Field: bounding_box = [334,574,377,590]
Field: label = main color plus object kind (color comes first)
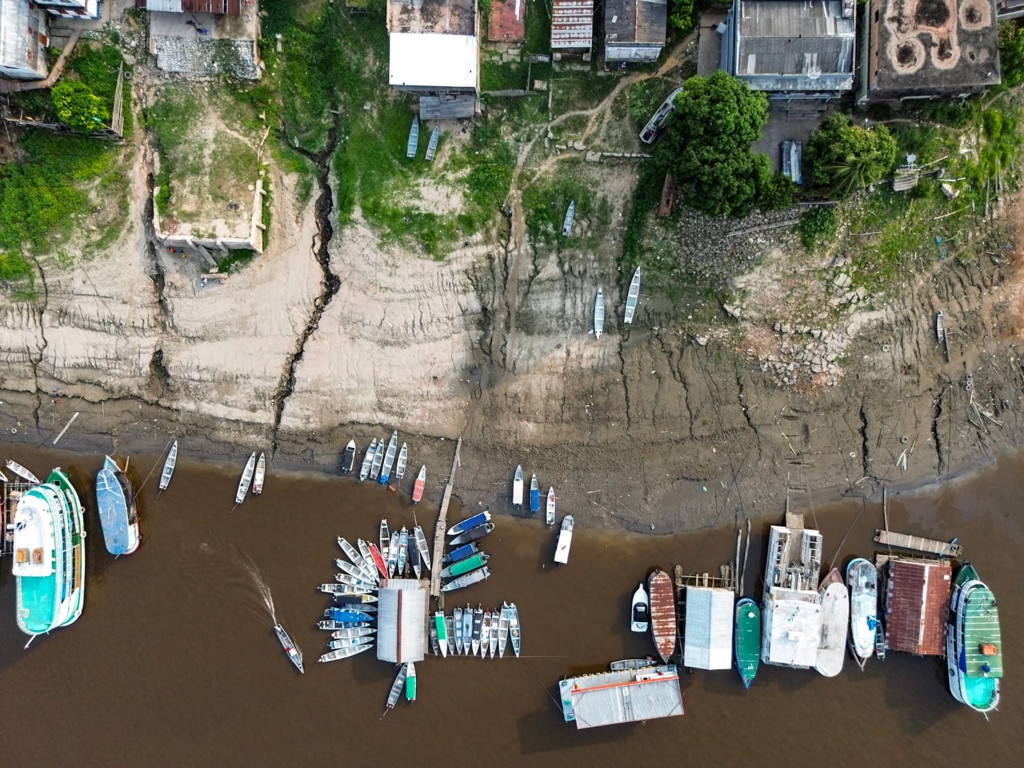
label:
white boat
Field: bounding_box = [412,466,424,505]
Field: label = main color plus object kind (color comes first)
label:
red boat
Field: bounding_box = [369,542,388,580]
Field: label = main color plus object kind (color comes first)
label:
red boat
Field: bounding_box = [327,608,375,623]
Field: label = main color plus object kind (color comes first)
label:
blue boat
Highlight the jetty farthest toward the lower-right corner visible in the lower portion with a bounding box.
[873,529,961,558]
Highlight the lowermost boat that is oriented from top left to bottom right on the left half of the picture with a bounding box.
[272,621,304,673]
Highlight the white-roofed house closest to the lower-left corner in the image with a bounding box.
[376,579,425,662]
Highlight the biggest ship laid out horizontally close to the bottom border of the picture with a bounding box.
[558,663,685,730]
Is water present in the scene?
Yes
